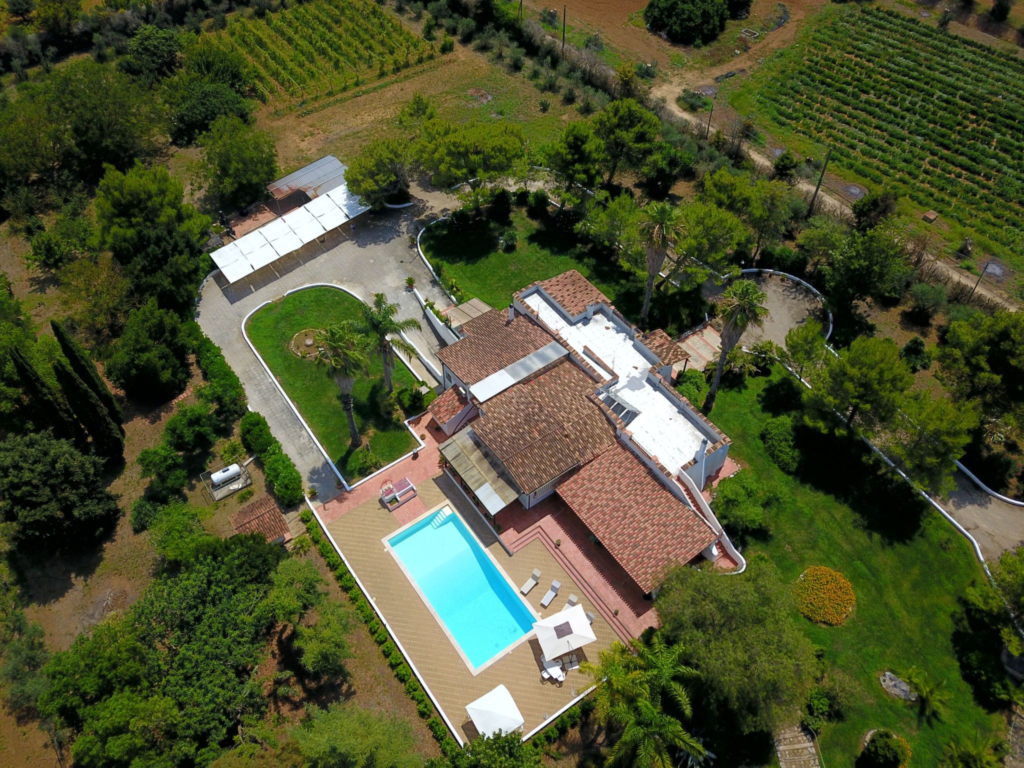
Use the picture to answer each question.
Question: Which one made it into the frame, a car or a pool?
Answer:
pool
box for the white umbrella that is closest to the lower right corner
[533,604,597,673]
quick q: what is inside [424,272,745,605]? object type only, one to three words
house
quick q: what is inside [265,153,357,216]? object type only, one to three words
shed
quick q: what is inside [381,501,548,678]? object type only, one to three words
swimming pool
